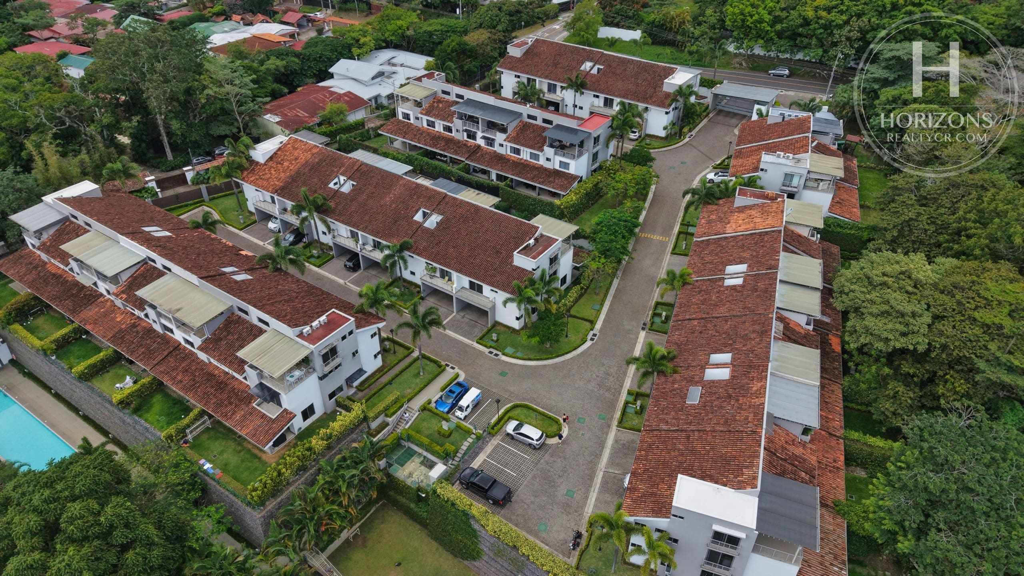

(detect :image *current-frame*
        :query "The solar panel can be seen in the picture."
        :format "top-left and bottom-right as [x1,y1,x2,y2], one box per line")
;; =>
[686,383,701,400]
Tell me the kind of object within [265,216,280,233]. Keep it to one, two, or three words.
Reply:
car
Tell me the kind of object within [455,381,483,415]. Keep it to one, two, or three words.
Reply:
truck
